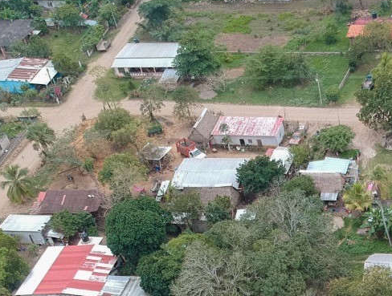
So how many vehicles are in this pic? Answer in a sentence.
Looking from above, you can make out 2 vehicles.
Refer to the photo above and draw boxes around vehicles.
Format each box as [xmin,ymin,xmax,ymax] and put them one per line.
[282,124,306,145]
[171,129,207,155]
